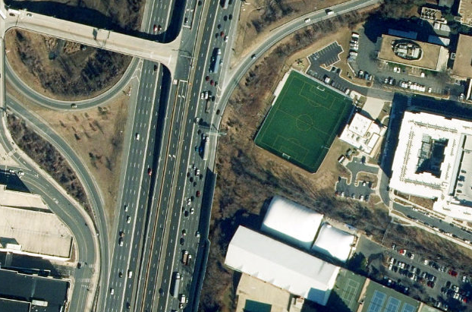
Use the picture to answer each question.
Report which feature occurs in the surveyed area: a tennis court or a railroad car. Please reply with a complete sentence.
The one in the frame is a tennis court.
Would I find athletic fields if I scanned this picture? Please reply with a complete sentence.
Yes, an athletic field appears in the view.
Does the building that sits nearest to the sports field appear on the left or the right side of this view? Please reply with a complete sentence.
The building that sits nearest to the sports field sits on the right side.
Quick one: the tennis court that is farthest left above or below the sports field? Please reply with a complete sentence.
Looking at the photo, you'll find the tennis court that is farthest left below the sports field.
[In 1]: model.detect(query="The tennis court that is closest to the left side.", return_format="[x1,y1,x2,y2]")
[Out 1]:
[331,272,366,299]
